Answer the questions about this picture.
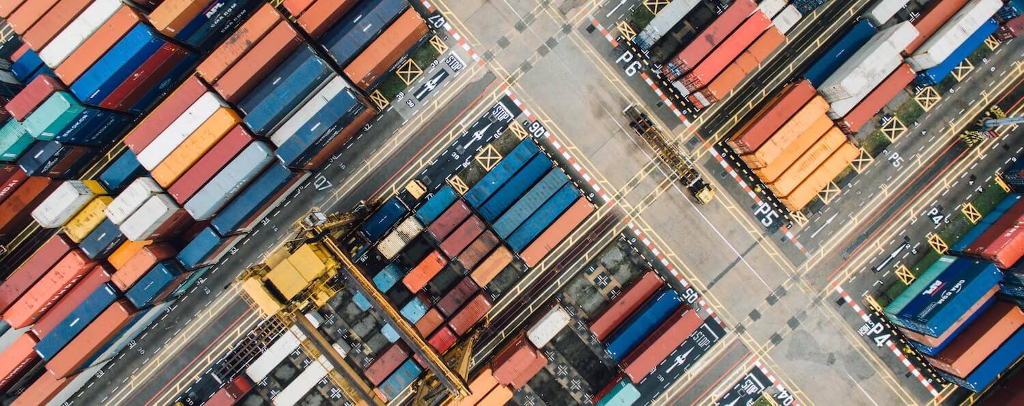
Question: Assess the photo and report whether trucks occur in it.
Yes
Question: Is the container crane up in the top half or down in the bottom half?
bottom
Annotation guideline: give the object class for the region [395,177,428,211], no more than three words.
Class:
truck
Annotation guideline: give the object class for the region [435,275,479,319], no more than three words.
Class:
shipping container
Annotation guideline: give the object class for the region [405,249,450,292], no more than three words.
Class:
shipping container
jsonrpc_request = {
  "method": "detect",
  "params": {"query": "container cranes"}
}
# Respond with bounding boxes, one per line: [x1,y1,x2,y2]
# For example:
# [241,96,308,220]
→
[236,195,492,406]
